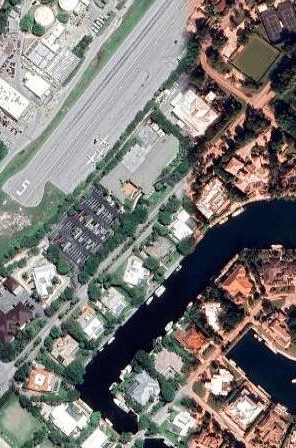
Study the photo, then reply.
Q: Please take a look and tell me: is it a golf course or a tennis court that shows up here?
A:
tennis court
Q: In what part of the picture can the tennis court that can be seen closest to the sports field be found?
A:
top right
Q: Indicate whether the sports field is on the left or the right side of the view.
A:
right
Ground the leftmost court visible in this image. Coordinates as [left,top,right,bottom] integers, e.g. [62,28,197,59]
[257,7,284,44]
